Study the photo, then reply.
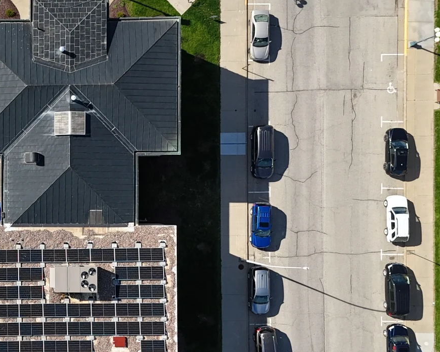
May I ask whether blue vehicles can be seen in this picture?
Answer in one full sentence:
Yes, this view includes a blue vehicle.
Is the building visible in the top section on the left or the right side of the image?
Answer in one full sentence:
The building visible in the top section sits on the left side.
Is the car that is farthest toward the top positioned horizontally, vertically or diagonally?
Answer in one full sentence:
Seen from above, the car that is farthest toward the top lies vertically.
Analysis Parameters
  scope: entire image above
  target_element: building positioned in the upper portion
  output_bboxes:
[0,0,183,225]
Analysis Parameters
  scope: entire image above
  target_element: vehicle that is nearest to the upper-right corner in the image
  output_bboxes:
[383,129,410,177]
